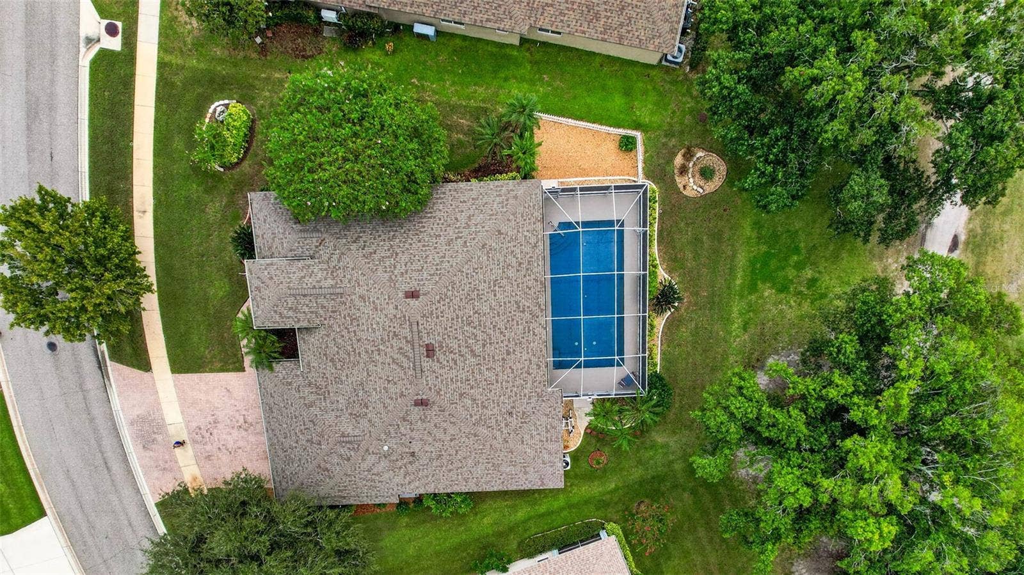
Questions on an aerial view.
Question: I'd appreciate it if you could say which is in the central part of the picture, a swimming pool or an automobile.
swimming pool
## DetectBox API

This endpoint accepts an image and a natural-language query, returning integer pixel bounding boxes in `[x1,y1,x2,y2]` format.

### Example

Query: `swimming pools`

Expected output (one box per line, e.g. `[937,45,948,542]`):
[547,215,629,373]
